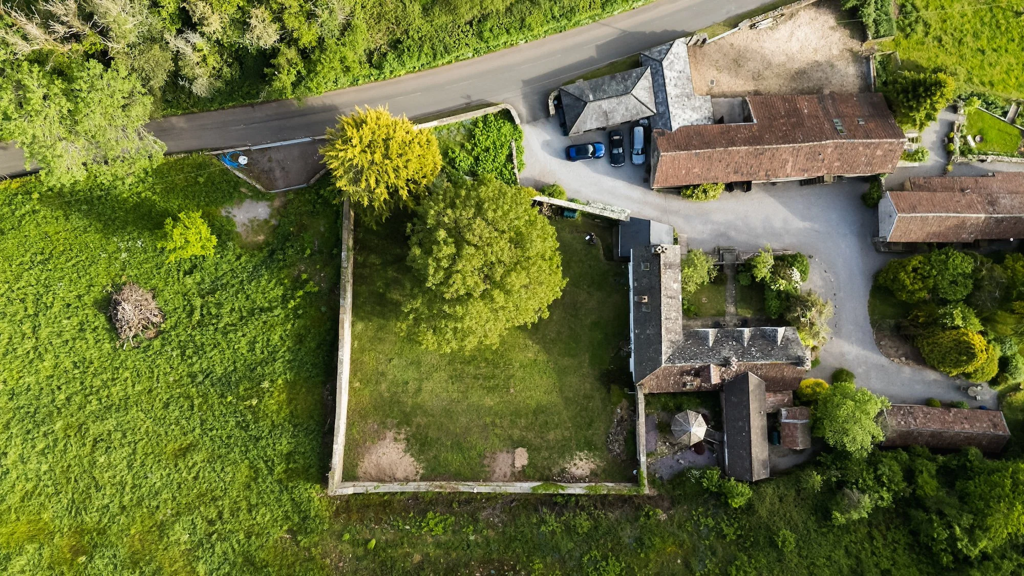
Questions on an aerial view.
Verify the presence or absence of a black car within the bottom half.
No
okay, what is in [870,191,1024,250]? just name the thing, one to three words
barn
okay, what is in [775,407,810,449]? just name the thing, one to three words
shed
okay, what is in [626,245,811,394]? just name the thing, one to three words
house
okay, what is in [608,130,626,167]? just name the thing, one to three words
car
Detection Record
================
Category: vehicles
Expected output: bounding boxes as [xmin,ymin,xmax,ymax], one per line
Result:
[608,130,626,167]
[566,140,605,162]
[629,126,648,165]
